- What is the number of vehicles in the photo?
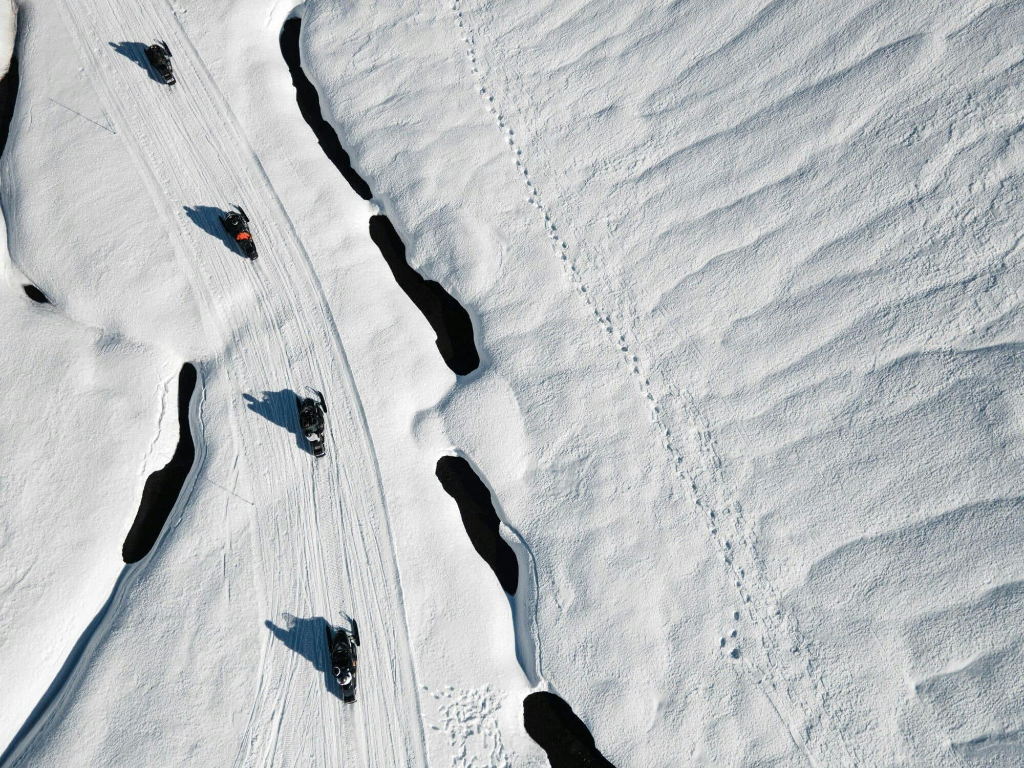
4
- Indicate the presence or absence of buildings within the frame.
No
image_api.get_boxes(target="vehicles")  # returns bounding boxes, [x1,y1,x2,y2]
[326,617,363,706]
[294,390,329,459]
[143,40,177,87]
[216,203,257,258]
